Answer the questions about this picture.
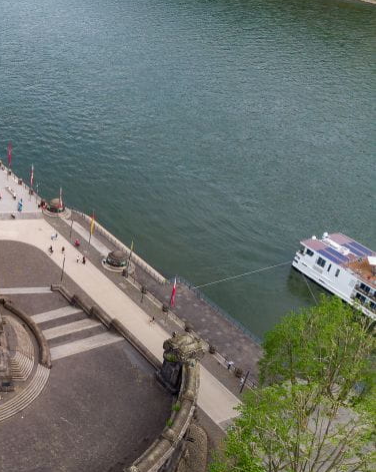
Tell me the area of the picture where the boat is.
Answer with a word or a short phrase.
right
